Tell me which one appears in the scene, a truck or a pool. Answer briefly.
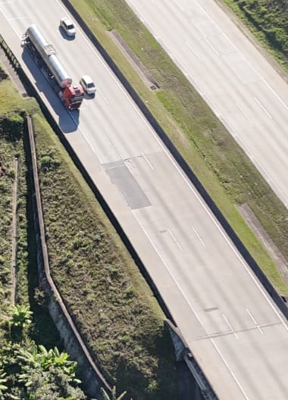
truck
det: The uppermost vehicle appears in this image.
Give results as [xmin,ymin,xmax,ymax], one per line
[57,19,76,37]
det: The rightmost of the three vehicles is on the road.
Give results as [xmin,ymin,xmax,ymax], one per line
[78,77,97,96]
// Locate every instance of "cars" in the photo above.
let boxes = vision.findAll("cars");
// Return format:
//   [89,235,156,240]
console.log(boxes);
[57,19,76,37]
[78,77,97,96]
